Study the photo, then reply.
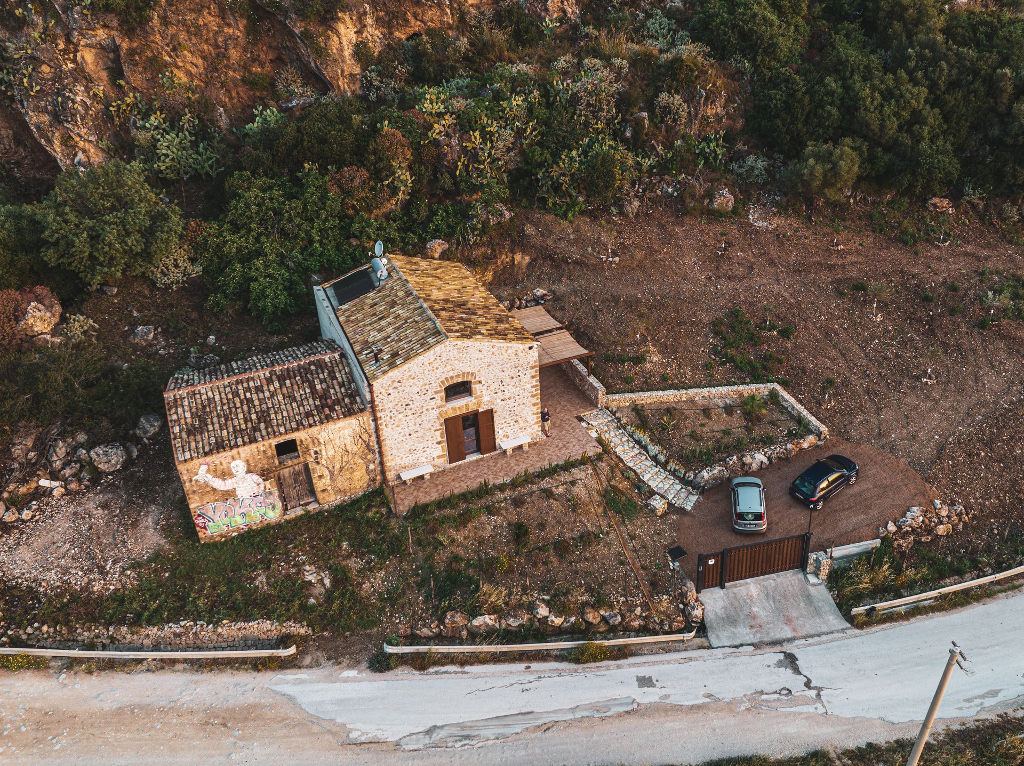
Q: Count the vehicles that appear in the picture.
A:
2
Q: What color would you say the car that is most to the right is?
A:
black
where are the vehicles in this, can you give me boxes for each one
[789,458,857,510]
[729,477,768,530]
